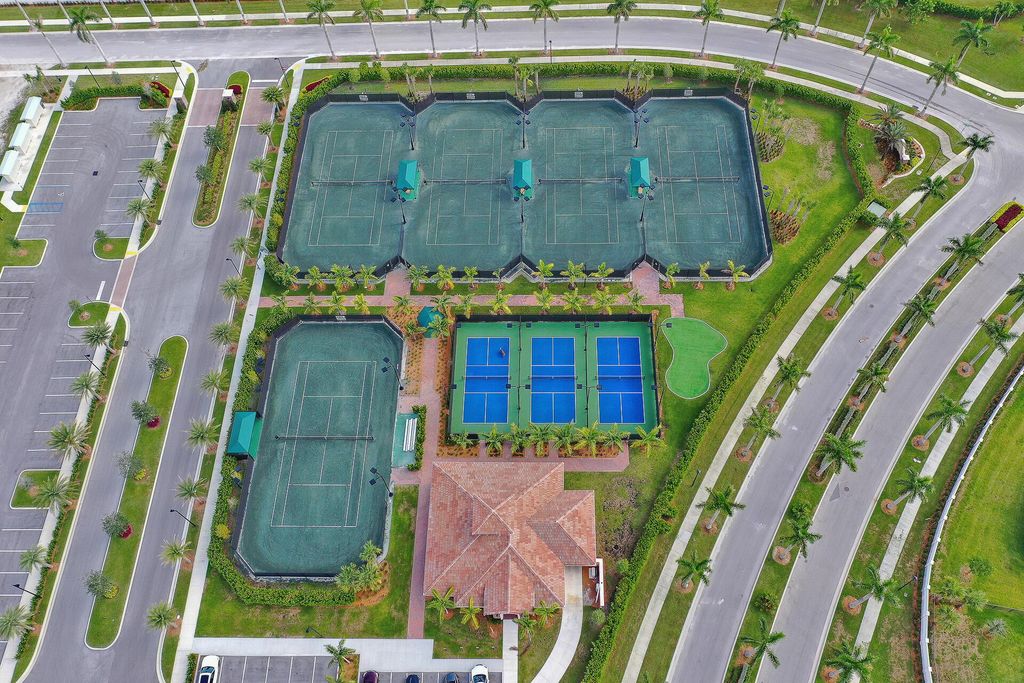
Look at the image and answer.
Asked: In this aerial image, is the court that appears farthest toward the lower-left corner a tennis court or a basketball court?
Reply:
tennis court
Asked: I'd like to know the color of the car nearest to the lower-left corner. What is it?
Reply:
white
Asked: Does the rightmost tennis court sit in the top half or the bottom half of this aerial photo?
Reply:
top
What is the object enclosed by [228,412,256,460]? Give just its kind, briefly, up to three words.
building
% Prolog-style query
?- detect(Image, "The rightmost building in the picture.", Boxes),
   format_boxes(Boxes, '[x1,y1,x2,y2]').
[630,157,650,198]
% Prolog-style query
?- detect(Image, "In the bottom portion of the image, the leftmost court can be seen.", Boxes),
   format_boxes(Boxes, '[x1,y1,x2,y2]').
[239,324,402,576]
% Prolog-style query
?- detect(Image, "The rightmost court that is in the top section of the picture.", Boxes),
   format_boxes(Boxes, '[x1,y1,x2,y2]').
[635,98,767,270]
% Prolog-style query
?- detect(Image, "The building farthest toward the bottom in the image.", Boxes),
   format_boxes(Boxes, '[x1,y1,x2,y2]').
[423,461,596,618]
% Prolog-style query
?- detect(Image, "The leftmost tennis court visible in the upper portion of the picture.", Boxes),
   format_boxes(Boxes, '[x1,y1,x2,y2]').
[283,104,416,272]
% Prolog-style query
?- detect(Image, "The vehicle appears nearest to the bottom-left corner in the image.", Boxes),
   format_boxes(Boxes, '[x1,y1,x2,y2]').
[197,655,219,683]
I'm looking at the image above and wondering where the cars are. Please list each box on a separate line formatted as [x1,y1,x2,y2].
[404,674,421,683]
[470,665,489,683]
[197,655,219,683]
[362,670,379,683]
[444,672,461,683]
